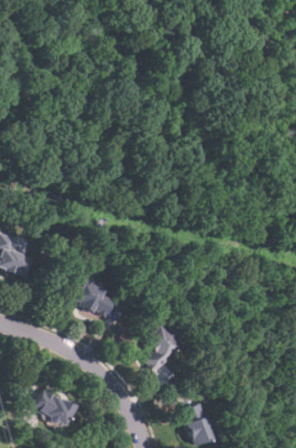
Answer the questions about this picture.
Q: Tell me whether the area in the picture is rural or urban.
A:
rural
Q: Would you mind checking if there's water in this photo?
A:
No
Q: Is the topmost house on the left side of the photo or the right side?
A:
left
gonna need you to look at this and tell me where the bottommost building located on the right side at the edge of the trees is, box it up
[187,414,216,444]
